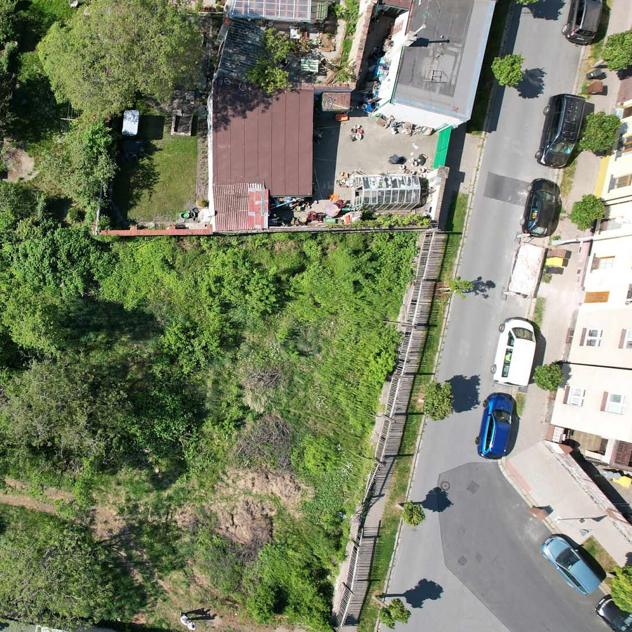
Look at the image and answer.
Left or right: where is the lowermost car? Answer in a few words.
right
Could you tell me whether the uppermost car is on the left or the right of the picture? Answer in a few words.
right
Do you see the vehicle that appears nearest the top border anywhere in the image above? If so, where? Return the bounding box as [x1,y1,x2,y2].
[557,0,605,48]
